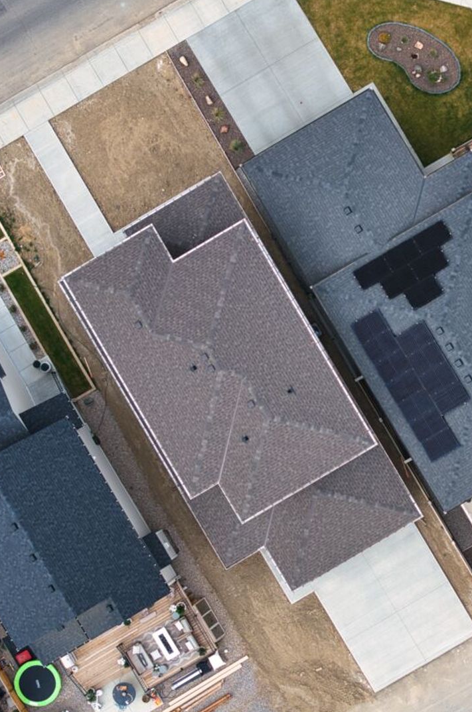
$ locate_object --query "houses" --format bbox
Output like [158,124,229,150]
[0,330,178,670]
[57,170,424,593]
[239,87,472,514]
